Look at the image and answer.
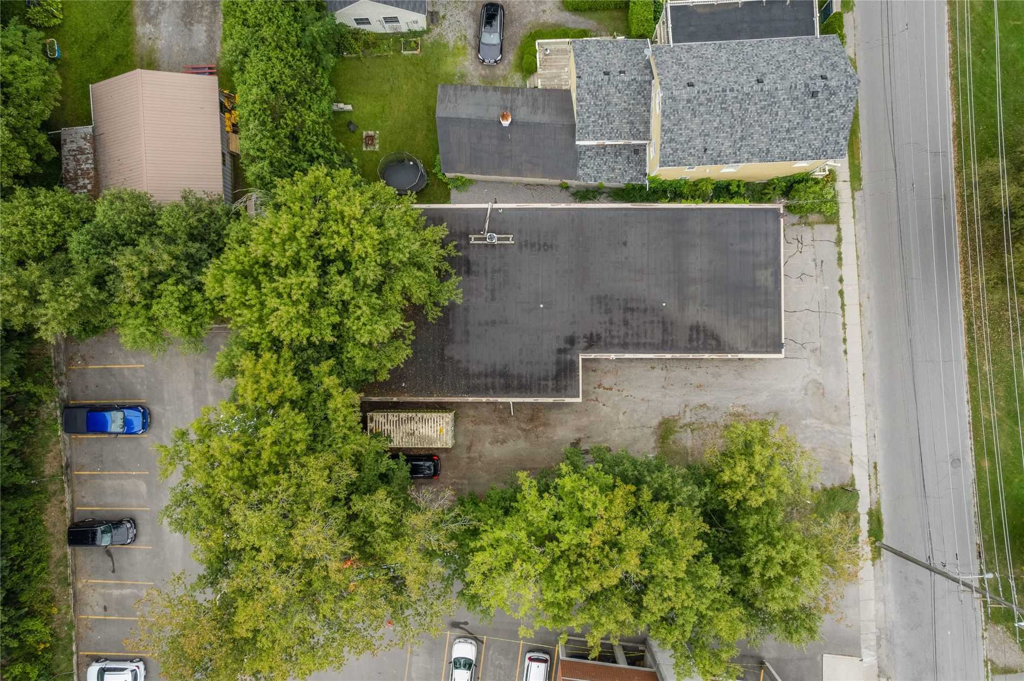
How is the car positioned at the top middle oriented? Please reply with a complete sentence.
The car positioned at the top middle is laid out from top to bottom.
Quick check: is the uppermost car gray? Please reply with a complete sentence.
Yes, the uppermost car is indeed gray.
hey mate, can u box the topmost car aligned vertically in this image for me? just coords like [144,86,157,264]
[475,4,506,69]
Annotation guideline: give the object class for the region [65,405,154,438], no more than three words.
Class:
truck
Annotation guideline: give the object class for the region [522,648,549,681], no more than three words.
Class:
car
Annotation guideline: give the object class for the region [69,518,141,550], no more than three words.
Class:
car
